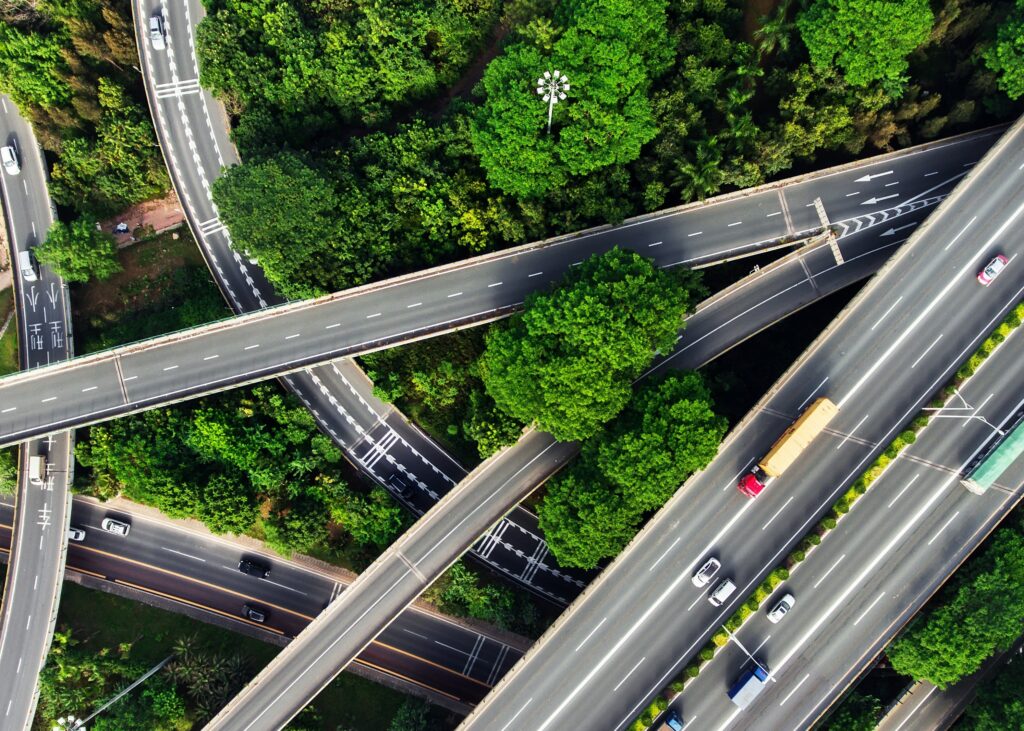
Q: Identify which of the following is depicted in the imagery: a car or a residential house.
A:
car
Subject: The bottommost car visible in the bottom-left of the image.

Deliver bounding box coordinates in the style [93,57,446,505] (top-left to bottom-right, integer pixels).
[241,605,268,623]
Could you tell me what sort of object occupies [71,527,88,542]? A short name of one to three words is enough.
car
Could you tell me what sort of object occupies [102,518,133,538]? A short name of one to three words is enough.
car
